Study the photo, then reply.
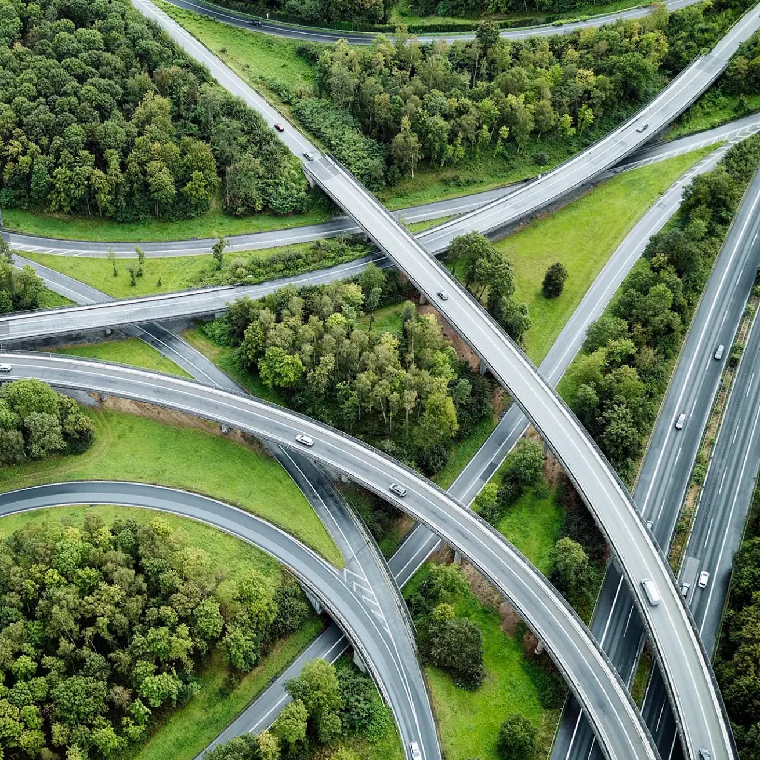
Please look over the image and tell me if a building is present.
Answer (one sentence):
No, no building can be seen from above.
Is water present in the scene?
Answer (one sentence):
No, there's no water in this view.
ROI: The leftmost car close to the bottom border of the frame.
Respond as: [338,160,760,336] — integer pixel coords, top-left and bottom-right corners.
[410,740,423,760]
